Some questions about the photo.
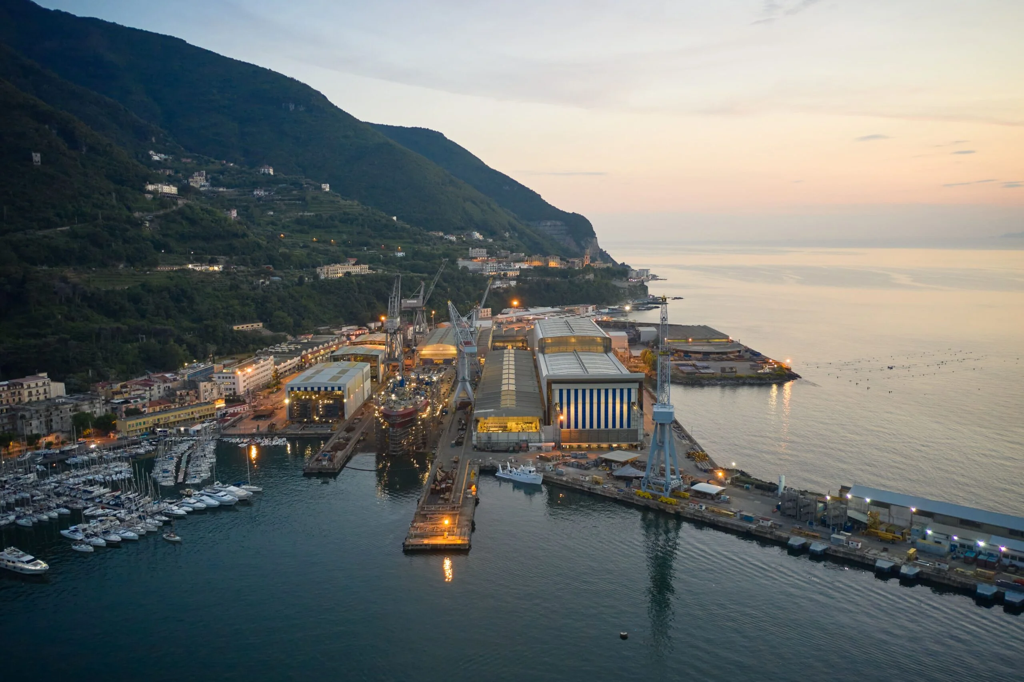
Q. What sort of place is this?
port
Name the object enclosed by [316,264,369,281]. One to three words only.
building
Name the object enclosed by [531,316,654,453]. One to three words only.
building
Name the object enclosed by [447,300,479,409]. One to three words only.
crane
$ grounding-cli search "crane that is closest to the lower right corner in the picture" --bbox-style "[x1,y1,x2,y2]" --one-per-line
[635,292,689,497]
